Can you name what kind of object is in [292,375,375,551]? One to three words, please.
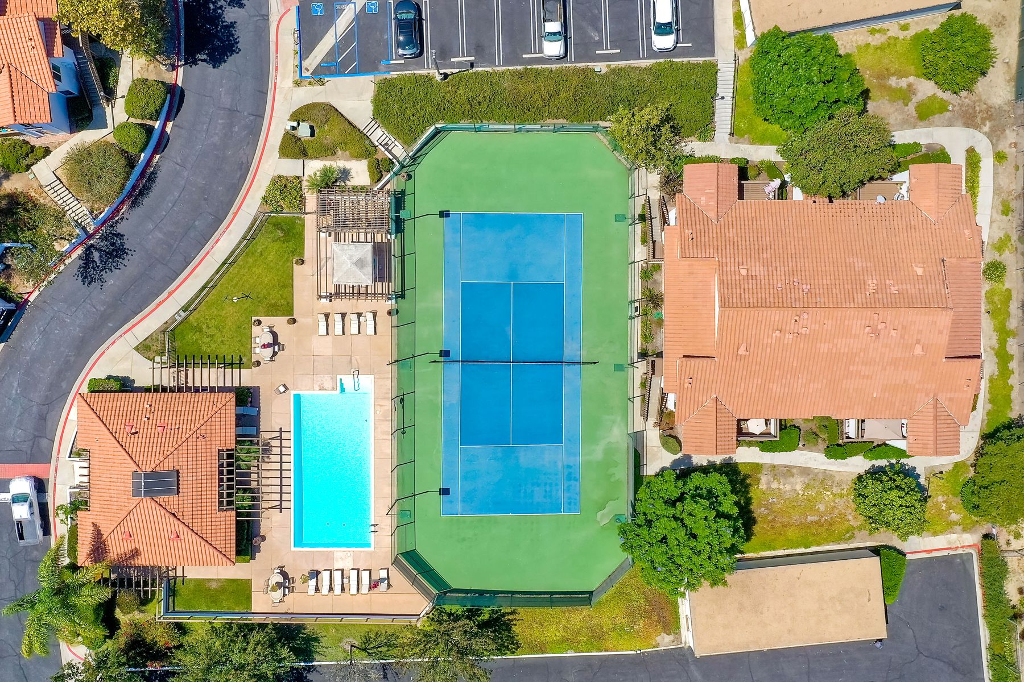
swimming pool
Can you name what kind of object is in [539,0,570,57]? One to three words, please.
truck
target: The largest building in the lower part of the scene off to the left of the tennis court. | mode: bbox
[75,391,236,568]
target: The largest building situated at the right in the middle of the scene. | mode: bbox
[658,160,984,458]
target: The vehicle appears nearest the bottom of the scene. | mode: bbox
[5,478,44,551]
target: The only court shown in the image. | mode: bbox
[398,133,630,593]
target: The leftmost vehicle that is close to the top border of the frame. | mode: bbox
[391,0,422,57]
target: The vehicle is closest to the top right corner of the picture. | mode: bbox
[652,0,683,51]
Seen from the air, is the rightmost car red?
No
